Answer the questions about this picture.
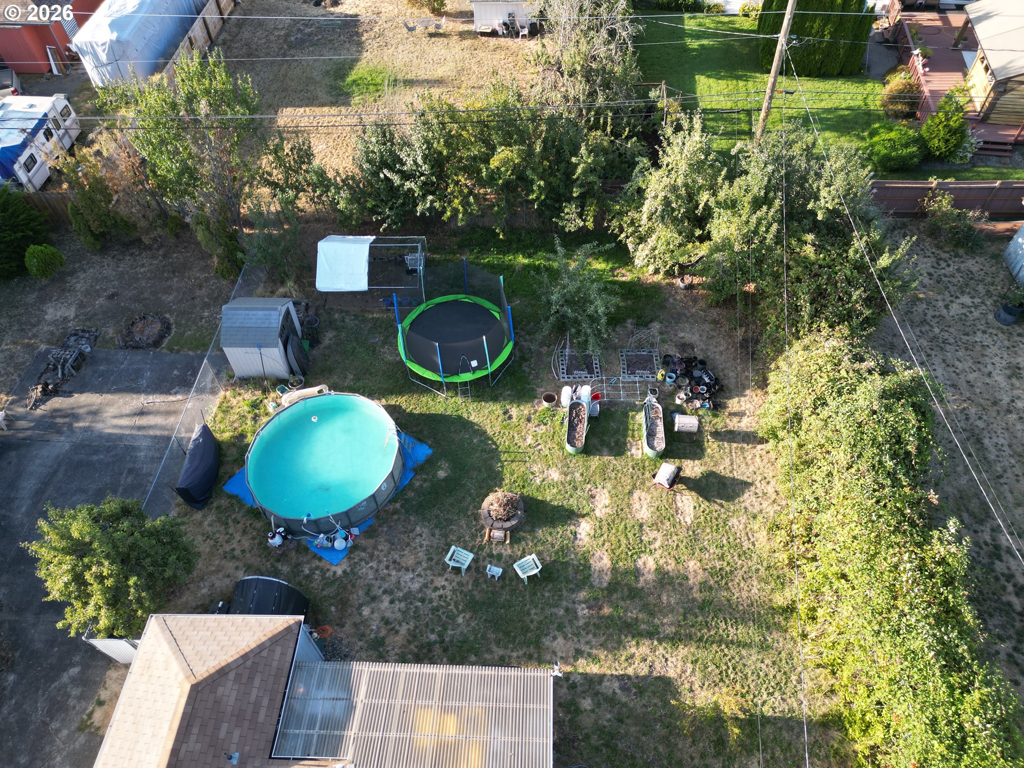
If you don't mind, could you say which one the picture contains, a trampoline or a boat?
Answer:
trampoline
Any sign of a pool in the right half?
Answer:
No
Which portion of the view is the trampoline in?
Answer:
center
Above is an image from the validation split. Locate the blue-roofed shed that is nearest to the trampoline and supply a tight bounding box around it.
[220,296,300,377]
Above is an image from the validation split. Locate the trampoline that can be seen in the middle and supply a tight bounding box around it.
[392,257,516,395]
